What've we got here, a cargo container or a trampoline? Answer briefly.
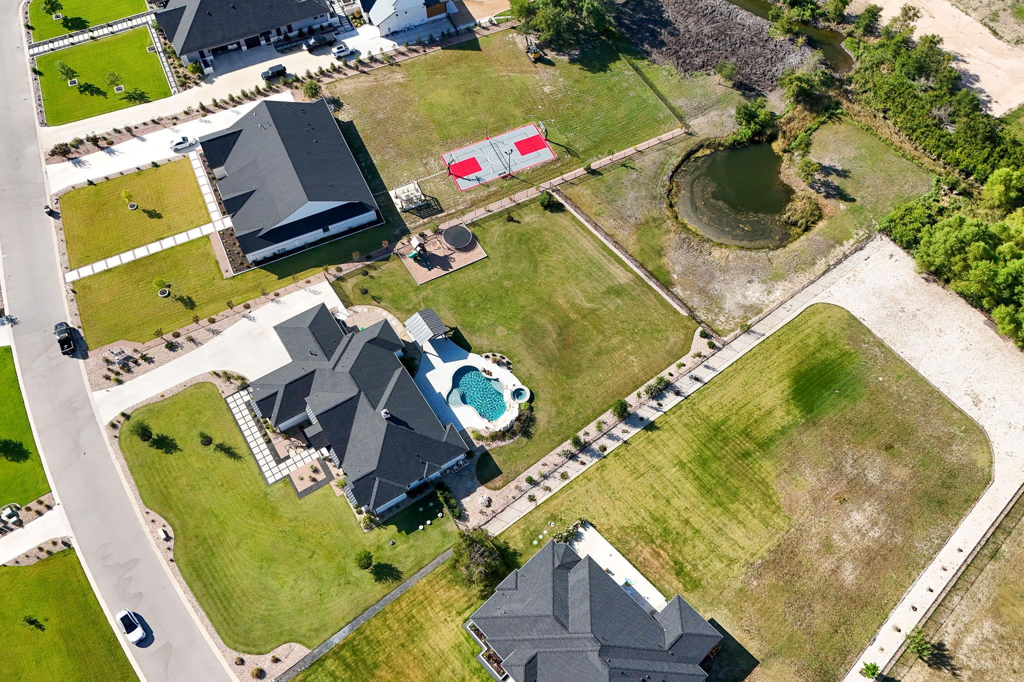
trampoline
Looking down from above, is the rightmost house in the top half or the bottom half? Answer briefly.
bottom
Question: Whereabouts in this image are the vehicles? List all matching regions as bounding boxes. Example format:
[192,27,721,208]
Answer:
[526,30,542,61]
[50,323,77,360]
[167,137,196,154]
[113,606,146,648]
[260,62,284,81]
[303,32,335,51]
[330,43,356,58]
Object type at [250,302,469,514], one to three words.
building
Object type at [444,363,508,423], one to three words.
swimming pool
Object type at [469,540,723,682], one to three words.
house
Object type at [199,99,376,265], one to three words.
house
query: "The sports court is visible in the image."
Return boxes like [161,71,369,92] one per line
[441,123,556,191]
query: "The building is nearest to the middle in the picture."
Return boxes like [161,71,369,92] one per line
[404,308,449,353]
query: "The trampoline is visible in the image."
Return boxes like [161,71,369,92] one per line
[442,228,473,252]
